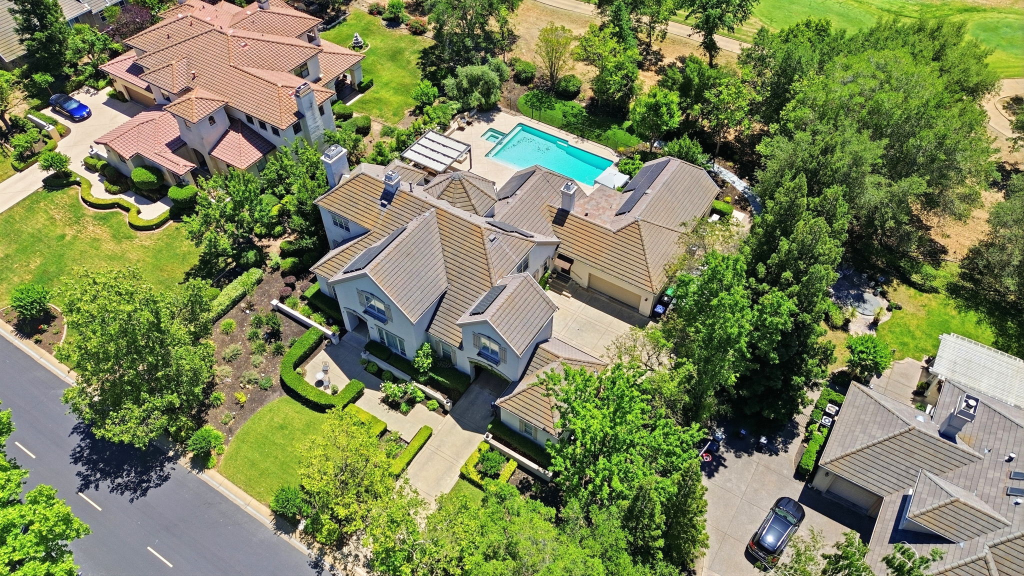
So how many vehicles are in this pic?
2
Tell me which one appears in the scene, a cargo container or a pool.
pool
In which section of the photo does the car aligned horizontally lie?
top left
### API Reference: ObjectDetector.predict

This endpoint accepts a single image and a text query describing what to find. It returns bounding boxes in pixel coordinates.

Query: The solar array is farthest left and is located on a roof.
[342,224,406,272]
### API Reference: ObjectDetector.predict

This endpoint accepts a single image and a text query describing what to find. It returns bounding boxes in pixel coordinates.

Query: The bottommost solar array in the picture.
[469,285,508,318]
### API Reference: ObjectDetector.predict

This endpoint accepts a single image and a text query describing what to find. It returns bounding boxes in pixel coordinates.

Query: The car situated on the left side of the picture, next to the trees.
[50,95,93,119]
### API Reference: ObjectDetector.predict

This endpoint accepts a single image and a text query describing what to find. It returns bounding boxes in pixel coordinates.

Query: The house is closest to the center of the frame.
[306,149,725,454]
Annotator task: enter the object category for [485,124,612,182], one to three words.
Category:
swimming pool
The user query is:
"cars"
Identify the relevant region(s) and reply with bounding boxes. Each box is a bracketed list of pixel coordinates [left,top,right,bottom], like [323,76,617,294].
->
[745,497,804,566]
[50,95,93,119]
